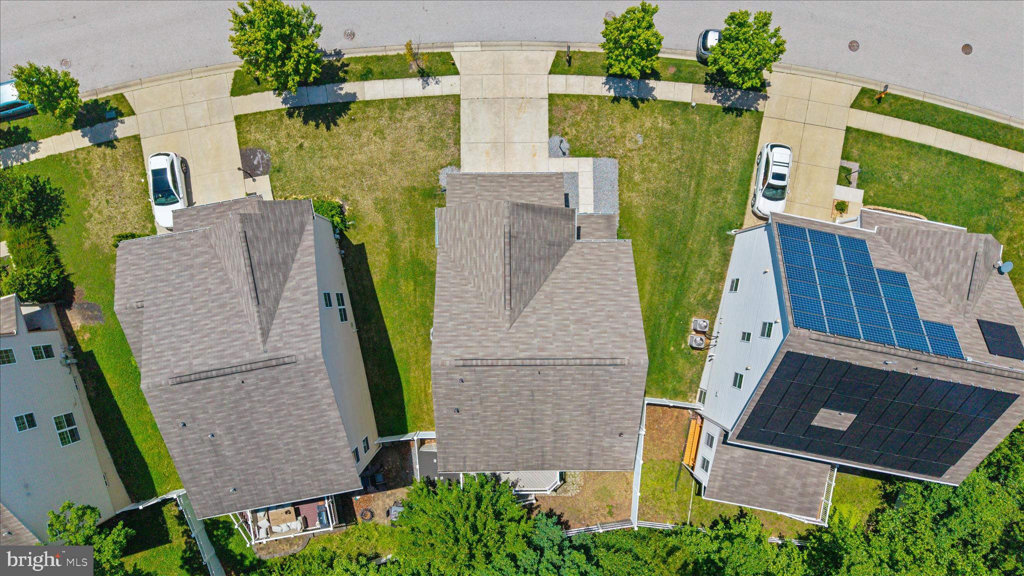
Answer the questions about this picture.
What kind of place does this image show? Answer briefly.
residential area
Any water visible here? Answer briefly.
No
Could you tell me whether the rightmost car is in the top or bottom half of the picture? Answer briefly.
top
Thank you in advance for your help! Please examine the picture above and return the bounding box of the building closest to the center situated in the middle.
[431,171,648,474]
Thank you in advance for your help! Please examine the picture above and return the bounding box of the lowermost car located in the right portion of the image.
[750,143,796,215]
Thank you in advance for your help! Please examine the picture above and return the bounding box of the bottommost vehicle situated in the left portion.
[150,152,192,231]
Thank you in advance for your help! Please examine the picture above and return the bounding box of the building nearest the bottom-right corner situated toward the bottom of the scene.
[690,205,1024,522]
